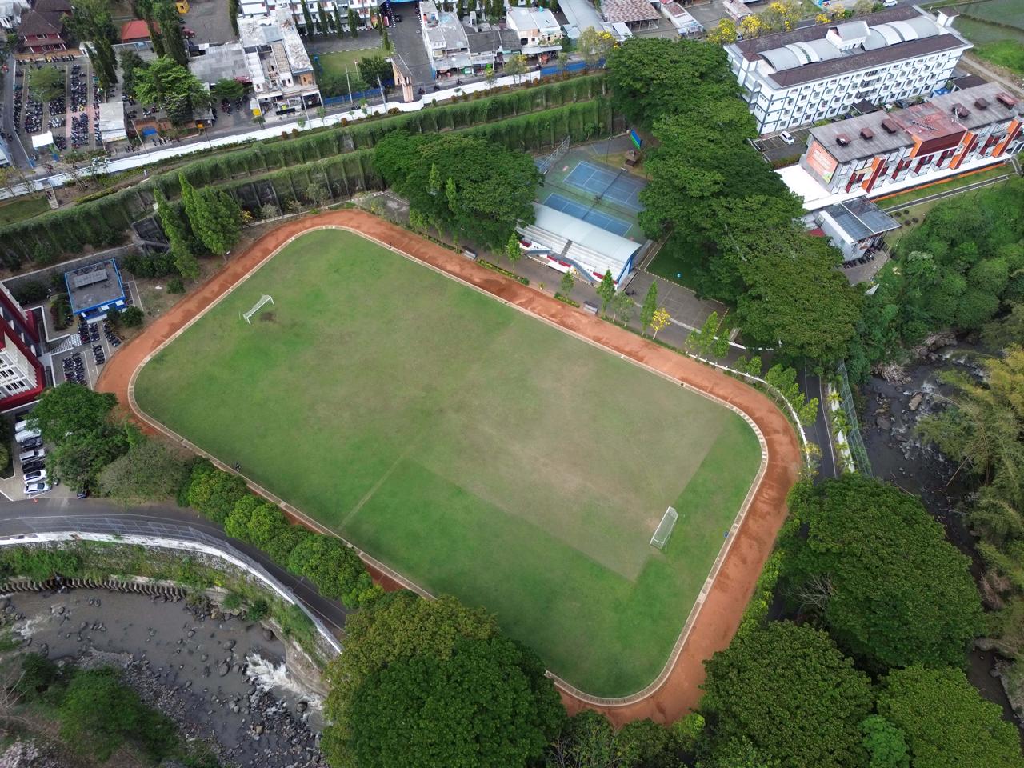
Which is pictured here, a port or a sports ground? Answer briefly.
sports ground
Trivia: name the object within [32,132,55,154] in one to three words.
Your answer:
tent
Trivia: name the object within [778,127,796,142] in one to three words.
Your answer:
car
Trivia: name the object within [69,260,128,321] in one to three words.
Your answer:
house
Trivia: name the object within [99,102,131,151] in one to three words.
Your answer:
building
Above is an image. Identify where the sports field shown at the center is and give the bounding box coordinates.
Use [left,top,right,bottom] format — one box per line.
[132,228,761,697]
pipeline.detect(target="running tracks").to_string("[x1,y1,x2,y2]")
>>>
[97,210,800,736]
